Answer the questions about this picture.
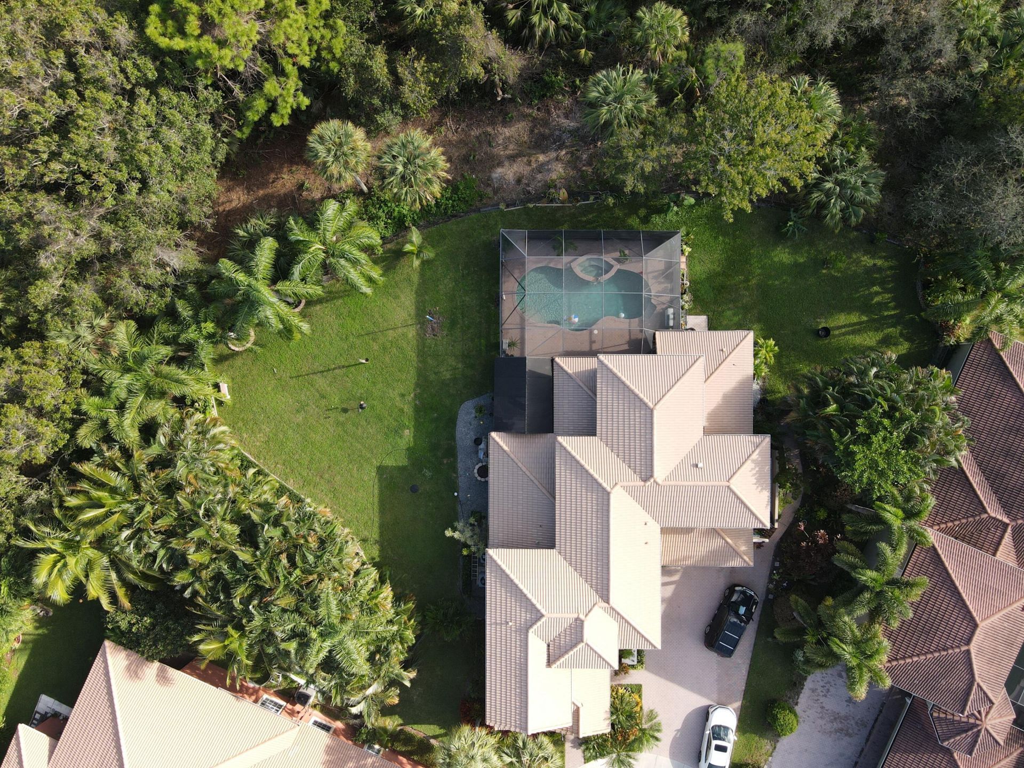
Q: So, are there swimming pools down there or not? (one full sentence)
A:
Yes, there is a swimming pool in the image.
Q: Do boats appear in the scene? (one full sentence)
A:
No, the frame has no boat in it.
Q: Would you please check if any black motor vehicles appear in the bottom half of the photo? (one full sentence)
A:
Yes, a black motor vehicle can be seen in the bottom half of the photo.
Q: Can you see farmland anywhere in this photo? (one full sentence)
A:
No, farmland can't be seen anywhere here.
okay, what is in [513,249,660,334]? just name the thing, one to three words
swimming pool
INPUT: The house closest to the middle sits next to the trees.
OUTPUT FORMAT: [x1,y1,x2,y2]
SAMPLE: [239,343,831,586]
[484,329,772,739]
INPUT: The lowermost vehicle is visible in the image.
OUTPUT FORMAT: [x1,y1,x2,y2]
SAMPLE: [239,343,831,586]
[698,704,736,768]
